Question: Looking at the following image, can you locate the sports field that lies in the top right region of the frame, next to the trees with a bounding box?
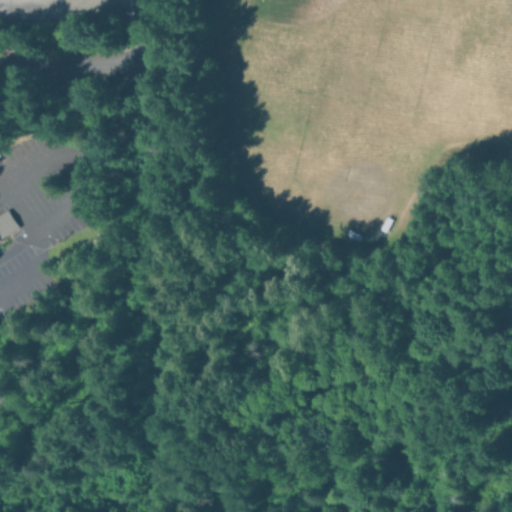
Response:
[236,0,512,249]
